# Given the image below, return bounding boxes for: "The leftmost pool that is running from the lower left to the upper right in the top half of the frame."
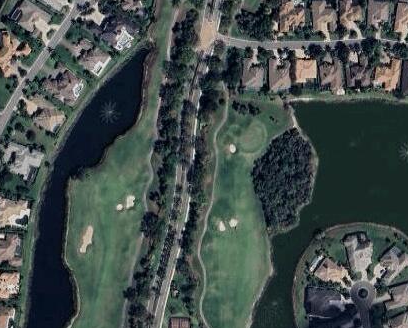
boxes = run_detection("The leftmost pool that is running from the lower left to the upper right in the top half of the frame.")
[66,78,90,107]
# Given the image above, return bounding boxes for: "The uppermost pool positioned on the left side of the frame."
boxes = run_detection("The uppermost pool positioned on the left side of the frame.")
[111,22,134,55]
